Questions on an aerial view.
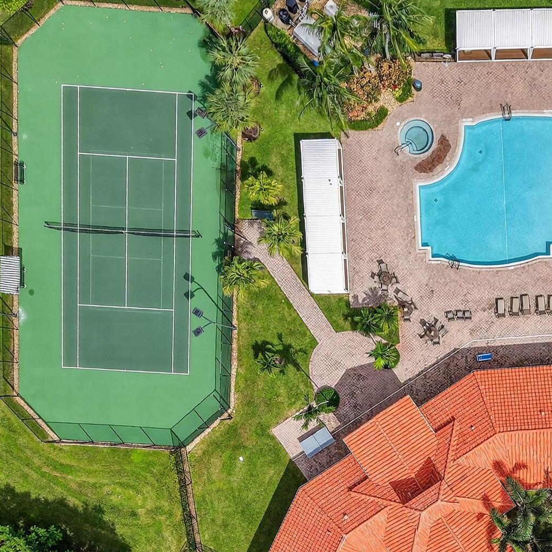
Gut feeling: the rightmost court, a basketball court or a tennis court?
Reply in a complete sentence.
I'd identify the rightmost court as a tennis court.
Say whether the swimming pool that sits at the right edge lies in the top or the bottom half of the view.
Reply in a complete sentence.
It is in the top half that the swimming pool that sits at the right edge appears.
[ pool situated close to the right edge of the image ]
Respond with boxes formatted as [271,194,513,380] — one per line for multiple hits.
[414,105,552,271]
